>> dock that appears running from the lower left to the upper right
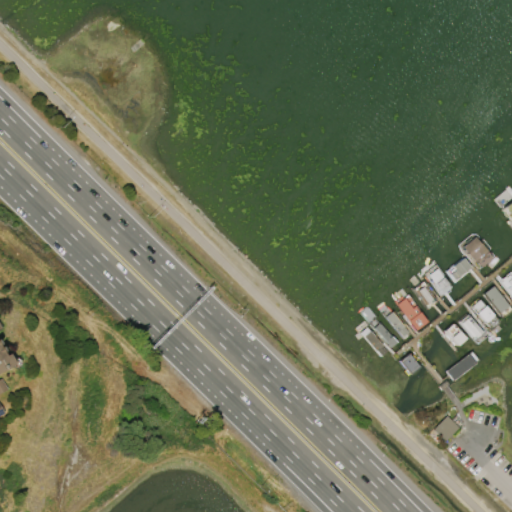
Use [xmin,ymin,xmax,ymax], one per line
[394,256,512,354]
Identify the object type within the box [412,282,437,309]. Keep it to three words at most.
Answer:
house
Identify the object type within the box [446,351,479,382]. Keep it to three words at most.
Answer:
house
